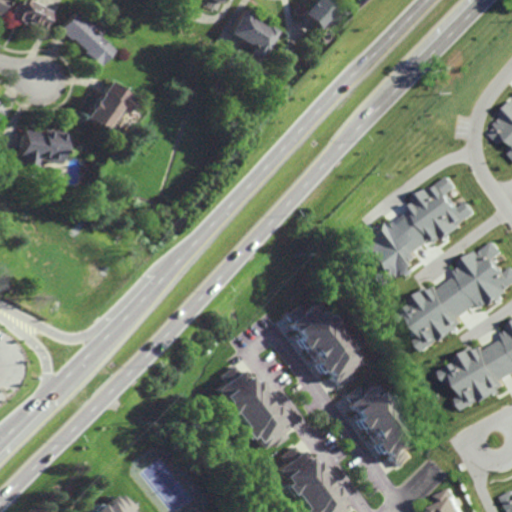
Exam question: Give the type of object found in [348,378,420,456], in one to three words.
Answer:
building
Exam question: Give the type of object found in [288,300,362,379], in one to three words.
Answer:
building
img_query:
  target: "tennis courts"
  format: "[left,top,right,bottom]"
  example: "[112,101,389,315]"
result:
[134,442,200,512]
